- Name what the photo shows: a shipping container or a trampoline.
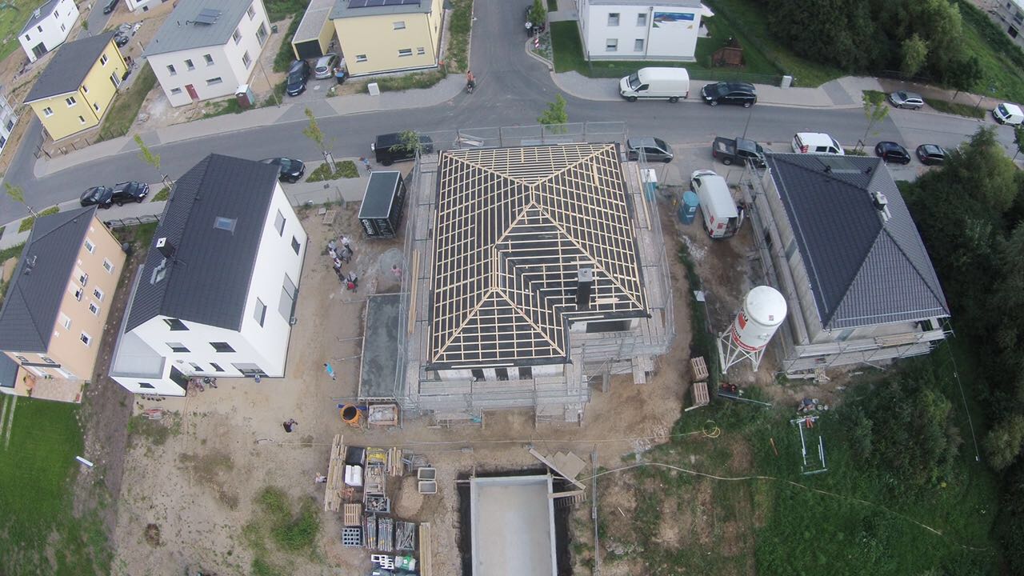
shipping container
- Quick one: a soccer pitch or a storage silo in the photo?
storage silo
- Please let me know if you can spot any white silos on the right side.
Yes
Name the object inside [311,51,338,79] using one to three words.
car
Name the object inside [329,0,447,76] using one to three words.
house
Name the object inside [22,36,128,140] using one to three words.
house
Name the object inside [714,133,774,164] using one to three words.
truck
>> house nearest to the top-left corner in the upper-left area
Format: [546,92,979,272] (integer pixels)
[10,0,80,63]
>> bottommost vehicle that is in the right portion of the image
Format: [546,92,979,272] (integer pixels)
[695,172,753,247]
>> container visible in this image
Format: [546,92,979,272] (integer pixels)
[359,171,404,238]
